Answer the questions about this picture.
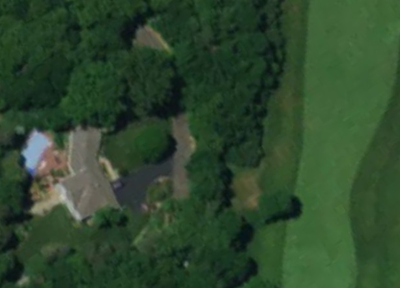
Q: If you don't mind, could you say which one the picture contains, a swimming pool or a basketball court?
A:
swimming pool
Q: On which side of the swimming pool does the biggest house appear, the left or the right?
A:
on the right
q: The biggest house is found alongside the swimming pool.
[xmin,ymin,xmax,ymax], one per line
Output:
[58,123,123,224]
